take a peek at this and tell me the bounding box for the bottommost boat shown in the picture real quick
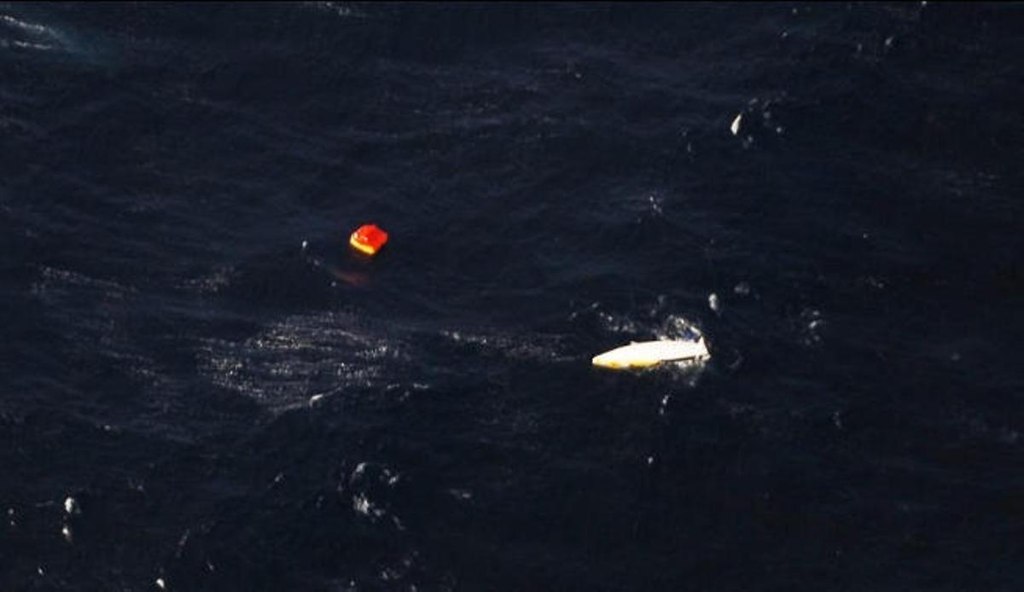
[593,333,710,367]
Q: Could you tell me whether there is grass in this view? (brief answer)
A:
No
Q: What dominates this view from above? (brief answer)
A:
water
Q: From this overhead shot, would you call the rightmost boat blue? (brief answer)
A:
No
